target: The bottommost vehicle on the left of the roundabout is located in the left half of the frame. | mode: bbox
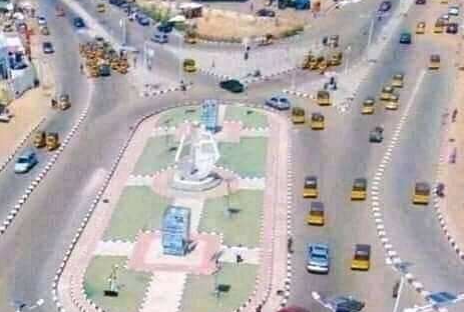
[11,150,39,175]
